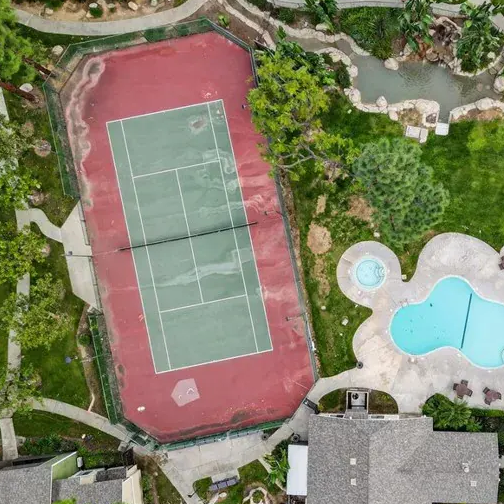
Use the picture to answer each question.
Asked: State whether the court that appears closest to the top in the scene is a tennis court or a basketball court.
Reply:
tennis court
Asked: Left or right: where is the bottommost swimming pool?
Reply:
right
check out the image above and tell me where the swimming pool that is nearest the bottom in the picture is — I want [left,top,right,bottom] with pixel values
[387,274,504,371]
